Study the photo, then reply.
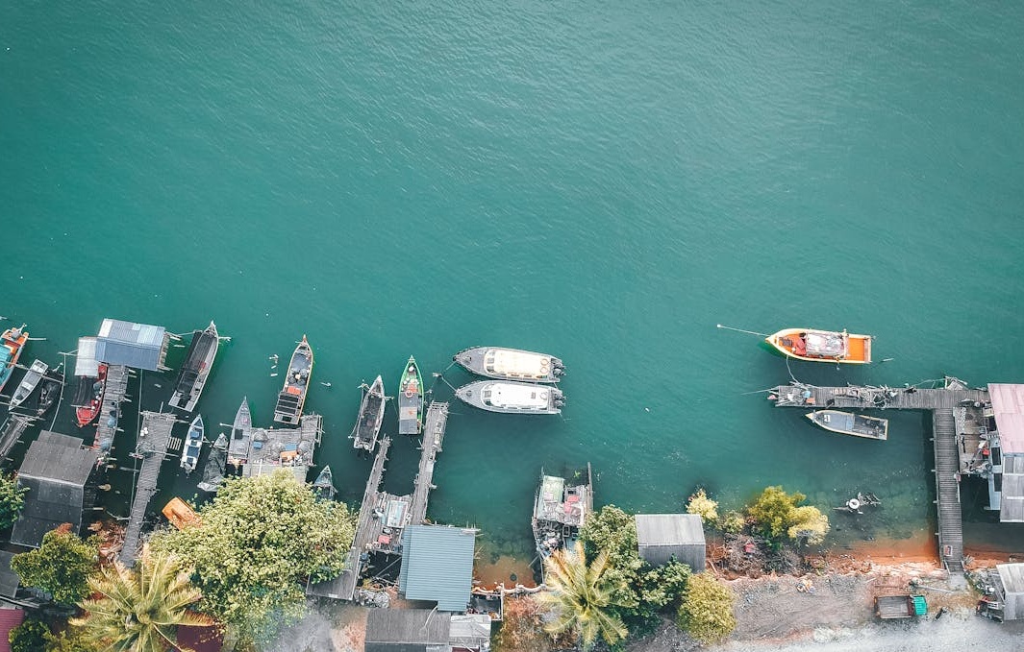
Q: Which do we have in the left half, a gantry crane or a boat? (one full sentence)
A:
You can see a boat in the left half.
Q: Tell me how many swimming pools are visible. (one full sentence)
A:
No swimming pools are visible.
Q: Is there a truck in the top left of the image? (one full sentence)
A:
No, there is no truck in the top left of the image.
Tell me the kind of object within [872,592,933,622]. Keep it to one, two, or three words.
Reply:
truck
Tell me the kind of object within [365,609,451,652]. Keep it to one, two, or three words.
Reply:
house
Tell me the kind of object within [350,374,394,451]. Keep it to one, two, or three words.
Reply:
boat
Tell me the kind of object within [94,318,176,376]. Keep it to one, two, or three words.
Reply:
shed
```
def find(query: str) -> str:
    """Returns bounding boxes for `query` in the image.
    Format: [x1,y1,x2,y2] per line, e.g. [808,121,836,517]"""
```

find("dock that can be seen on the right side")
[775,380,989,566]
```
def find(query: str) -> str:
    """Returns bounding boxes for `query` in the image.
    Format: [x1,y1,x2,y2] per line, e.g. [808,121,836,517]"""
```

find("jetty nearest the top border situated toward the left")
[95,365,136,457]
